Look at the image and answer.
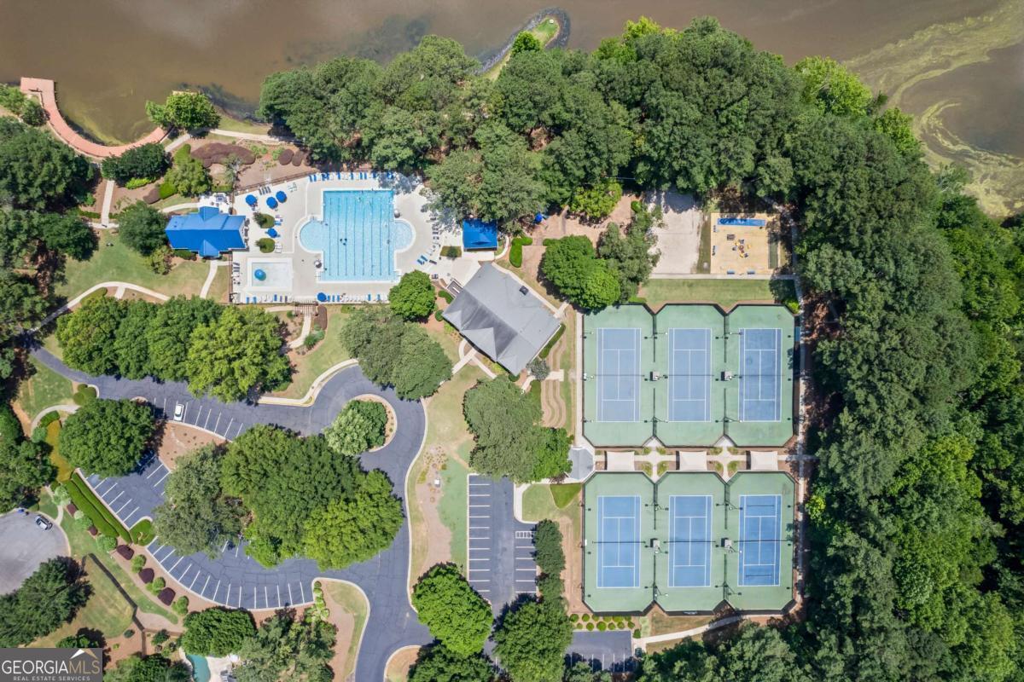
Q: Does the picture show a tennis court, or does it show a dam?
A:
tennis court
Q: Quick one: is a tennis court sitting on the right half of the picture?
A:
Yes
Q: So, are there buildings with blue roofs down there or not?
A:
Yes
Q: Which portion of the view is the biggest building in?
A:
center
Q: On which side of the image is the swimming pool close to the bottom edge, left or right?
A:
left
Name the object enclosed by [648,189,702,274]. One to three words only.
sports court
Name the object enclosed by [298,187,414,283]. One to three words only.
swimming pool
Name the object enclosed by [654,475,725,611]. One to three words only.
tennis court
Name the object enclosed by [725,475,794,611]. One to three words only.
tennis court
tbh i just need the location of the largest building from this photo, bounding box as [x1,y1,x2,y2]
[442,260,561,376]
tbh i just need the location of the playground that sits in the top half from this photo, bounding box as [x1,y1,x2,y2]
[711,213,769,274]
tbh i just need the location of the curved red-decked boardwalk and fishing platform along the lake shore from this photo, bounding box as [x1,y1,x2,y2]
[18,75,167,158]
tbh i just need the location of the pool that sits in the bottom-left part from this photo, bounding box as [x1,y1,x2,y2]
[185,651,211,682]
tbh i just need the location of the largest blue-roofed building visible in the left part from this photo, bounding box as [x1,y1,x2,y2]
[164,205,248,257]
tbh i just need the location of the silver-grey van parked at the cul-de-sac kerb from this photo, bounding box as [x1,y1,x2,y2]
[32,514,52,531]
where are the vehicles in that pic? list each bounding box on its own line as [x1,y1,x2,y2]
[172,402,184,421]
[32,514,52,531]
